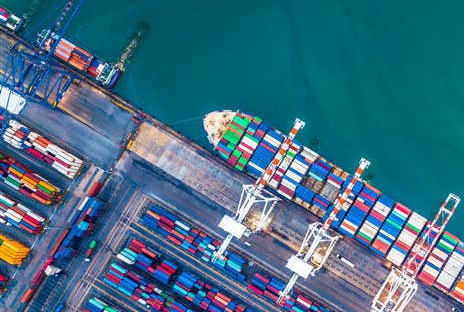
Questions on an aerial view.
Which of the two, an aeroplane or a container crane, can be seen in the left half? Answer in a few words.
container crane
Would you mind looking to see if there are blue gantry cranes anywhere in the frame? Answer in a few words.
Yes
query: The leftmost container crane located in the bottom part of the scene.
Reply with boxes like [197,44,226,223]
[212,120,304,263]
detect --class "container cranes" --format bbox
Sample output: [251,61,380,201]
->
[212,120,304,263]
[367,191,462,312]
[277,159,369,301]
[0,0,87,134]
